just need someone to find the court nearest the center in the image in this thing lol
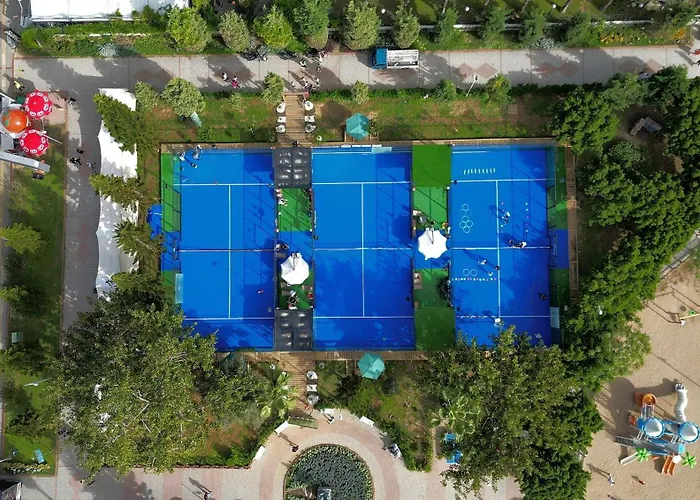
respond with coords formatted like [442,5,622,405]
[310,145,416,354]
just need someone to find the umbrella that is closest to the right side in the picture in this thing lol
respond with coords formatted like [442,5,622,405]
[416,228,448,260]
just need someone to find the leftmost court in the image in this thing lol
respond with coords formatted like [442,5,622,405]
[170,147,278,354]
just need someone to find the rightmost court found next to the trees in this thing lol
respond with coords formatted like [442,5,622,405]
[448,143,562,352]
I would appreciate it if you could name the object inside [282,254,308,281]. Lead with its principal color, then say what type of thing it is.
white umbrella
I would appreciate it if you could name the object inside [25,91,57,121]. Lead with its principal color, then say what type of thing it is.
red umbrella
